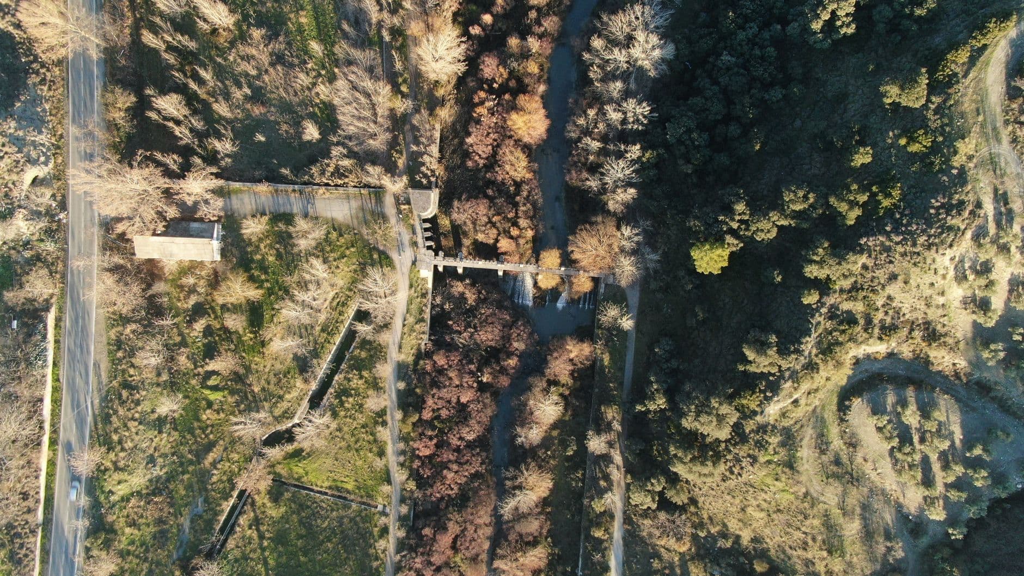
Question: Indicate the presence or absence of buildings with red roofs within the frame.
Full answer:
No, I can see no building with a red roof in this picture.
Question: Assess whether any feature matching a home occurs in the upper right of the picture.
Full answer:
No, the scene shows no home in the upper right of the picture.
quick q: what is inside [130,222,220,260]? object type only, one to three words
house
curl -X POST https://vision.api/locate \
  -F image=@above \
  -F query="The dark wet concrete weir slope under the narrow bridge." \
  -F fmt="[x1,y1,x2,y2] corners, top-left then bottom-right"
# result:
[504,272,599,304]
